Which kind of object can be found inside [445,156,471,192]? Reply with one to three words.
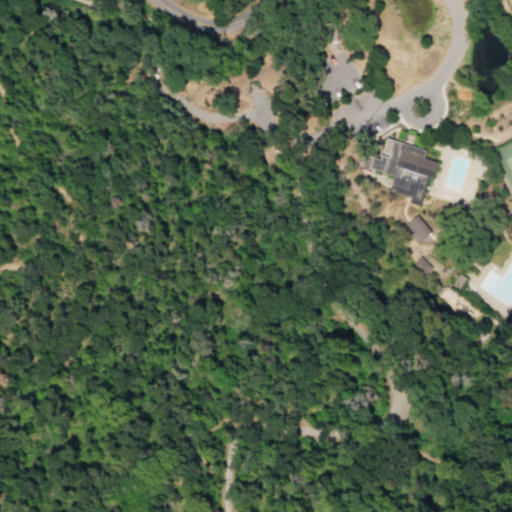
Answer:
swimming pool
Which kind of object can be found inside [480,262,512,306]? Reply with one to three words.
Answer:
swimming pool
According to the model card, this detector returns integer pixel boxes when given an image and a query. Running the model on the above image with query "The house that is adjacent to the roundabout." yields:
[371,138,440,204]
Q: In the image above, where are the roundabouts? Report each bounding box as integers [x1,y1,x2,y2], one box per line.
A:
[402,84,446,129]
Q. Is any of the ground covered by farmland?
No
